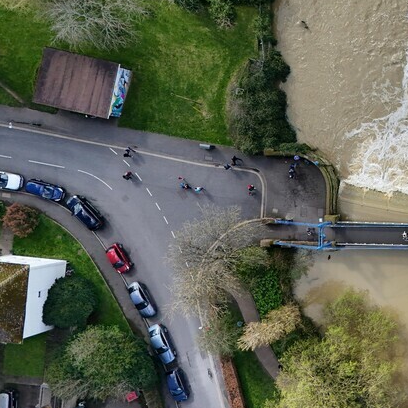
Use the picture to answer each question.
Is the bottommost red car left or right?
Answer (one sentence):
The bottommost red car sits on the left side.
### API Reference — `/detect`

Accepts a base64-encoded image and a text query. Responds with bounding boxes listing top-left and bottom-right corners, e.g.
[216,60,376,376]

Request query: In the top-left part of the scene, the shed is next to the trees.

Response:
[33,47,131,119]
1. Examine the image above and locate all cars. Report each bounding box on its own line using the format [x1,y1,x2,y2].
[124,278,158,322]
[0,171,22,193]
[62,191,107,236]
[0,388,18,408]
[21,180,66,204]
[102,239,134,278]
[145,323,179,369]
[161,365,192,407]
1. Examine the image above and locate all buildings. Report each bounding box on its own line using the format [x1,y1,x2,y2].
[0,254,66,347]
[33,47,131,119]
